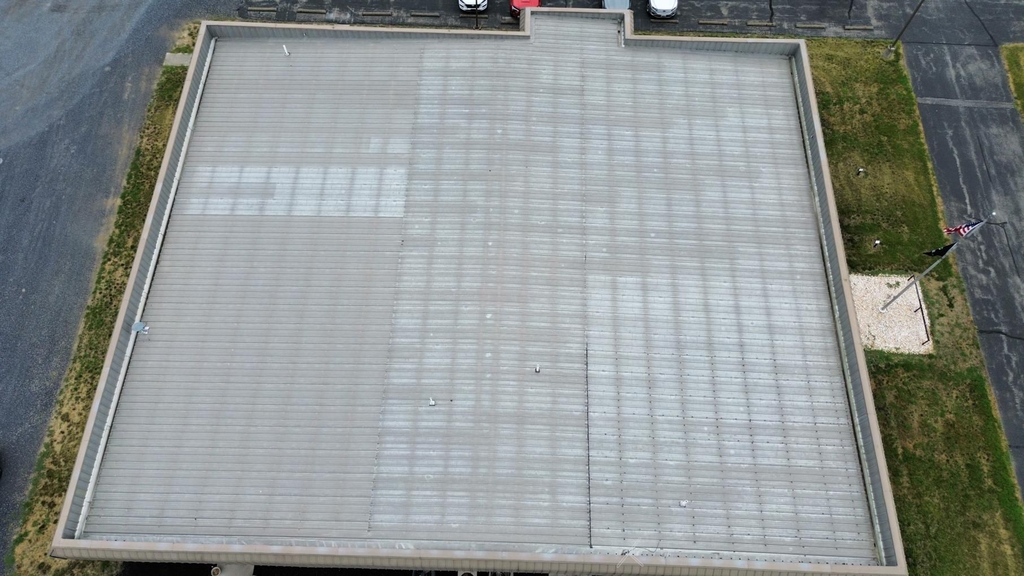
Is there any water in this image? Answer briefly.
No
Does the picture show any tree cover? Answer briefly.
No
